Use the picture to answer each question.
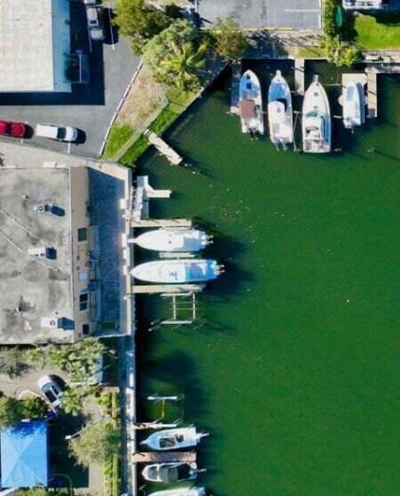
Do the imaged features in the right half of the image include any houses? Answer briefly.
No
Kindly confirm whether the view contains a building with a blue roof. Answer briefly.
Yes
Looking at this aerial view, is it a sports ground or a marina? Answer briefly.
marina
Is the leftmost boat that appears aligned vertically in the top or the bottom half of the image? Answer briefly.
top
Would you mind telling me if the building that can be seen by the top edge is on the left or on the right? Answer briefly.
left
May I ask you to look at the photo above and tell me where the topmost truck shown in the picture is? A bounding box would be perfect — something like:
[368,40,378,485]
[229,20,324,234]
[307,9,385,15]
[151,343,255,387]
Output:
[81,0,106,42]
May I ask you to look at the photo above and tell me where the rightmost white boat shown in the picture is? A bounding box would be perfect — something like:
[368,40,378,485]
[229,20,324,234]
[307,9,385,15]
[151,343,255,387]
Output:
[343,82,363,132]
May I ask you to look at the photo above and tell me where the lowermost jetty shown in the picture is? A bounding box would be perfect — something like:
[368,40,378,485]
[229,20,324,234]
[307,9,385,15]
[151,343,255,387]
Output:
[136,448,197,465]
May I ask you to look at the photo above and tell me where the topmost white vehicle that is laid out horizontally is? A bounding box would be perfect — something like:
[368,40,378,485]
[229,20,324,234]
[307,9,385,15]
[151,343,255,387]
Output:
[33,123,84,143]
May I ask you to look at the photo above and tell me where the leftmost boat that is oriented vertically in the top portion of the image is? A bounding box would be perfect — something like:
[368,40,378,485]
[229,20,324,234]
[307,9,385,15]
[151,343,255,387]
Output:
[237,69,265,140]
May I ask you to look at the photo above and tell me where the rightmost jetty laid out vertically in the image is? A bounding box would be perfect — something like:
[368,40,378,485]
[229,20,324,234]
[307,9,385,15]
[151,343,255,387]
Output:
[364,75,380,118]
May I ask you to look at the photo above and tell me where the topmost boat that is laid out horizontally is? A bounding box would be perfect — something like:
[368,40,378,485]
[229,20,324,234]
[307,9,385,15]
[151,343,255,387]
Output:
[123,228,218,250]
